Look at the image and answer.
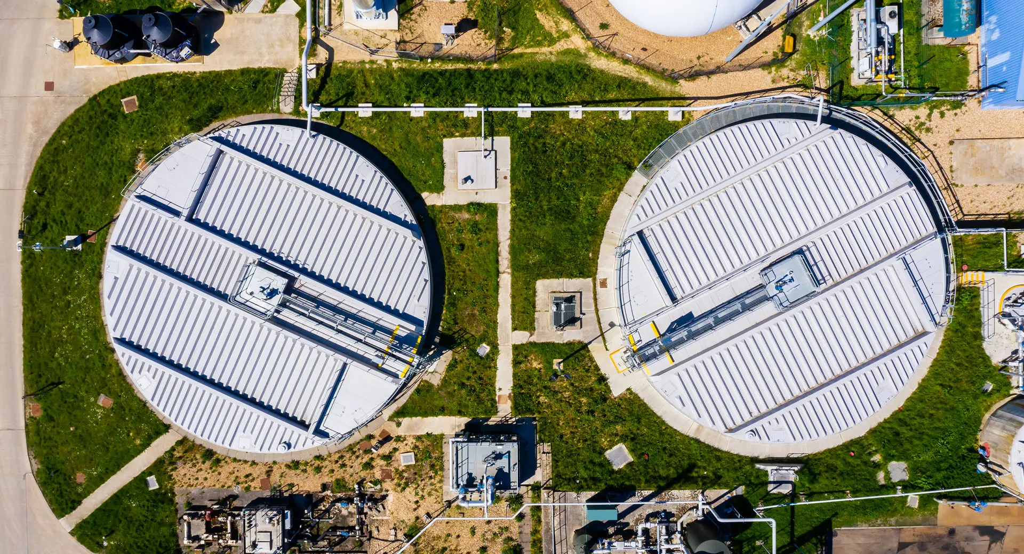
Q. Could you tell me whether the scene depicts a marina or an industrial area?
industrial area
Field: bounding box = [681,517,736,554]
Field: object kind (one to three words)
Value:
storage tank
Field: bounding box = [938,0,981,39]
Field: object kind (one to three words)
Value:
storage tank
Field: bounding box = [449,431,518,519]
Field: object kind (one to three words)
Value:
building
